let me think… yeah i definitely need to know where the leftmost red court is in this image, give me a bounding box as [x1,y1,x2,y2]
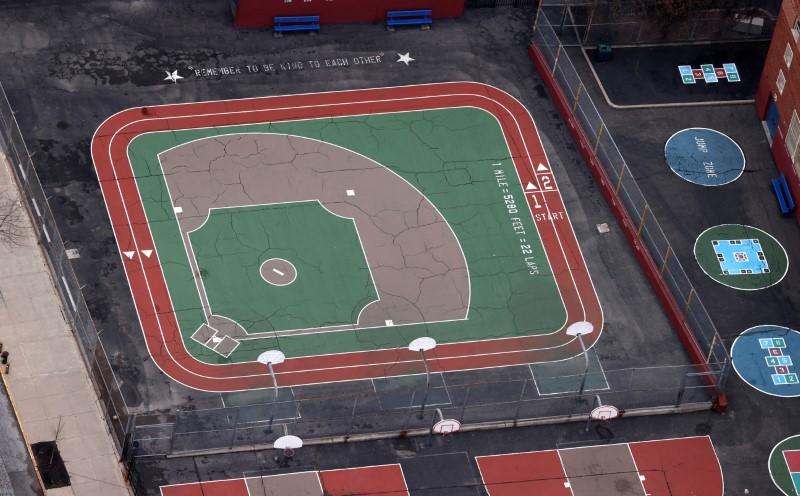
[159,451,415,496]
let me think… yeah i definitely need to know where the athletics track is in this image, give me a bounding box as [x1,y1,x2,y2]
[92,81,604,392]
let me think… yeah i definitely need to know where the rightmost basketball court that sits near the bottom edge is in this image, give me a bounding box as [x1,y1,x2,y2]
[474,434,726,496]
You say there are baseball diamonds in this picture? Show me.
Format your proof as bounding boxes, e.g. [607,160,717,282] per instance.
[96,103,574,381]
